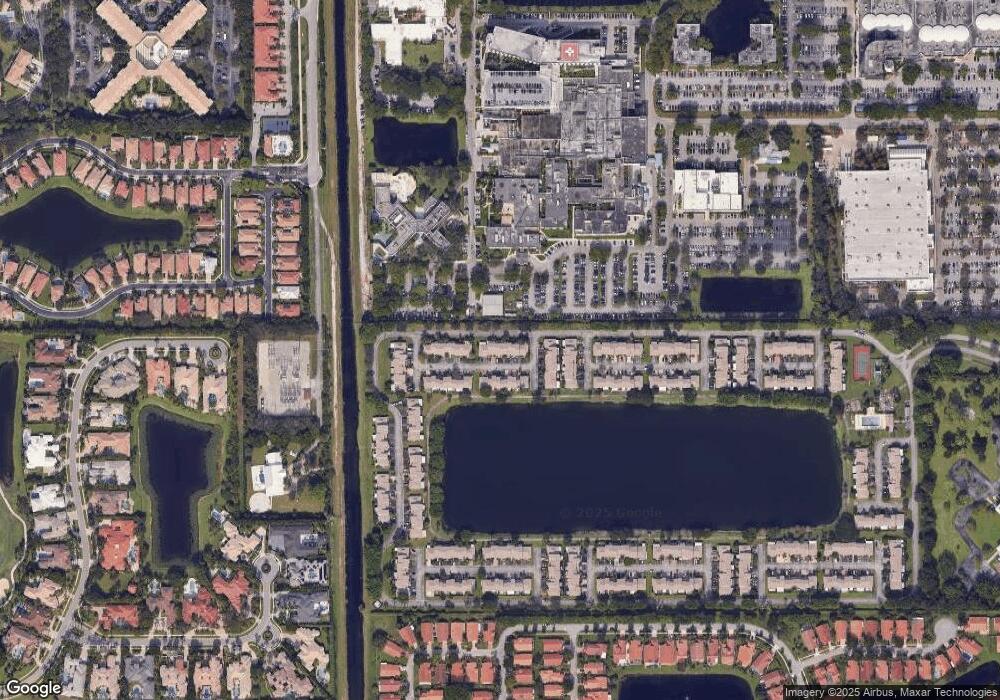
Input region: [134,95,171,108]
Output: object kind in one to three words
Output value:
swimming pool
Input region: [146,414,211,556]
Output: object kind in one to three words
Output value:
pond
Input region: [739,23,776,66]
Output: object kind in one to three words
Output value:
building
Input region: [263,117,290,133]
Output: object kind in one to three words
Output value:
sports court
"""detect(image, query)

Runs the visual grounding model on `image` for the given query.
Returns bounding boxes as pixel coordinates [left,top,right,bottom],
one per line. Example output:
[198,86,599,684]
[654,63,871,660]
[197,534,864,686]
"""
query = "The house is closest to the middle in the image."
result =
[479,340,528,359]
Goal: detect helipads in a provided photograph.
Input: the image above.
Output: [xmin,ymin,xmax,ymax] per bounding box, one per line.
[561,42,579,61]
